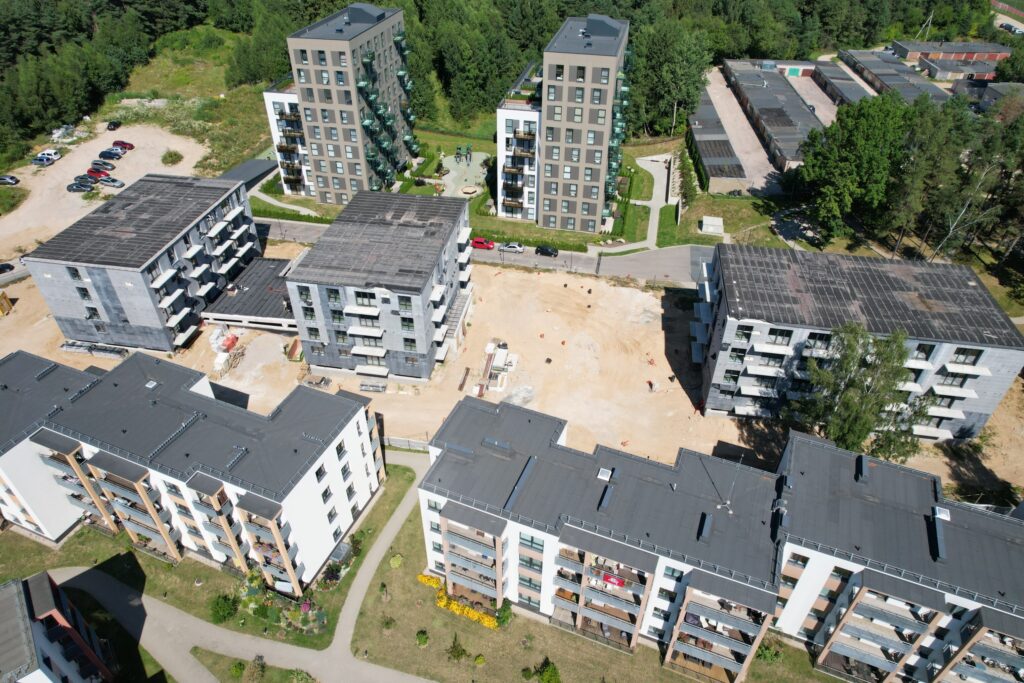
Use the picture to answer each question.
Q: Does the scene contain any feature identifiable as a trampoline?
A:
No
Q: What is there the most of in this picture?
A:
buildings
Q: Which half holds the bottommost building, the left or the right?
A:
left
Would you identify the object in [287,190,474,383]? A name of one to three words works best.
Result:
building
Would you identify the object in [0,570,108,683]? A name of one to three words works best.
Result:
building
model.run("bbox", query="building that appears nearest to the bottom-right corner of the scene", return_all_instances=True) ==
[765,434,1024,683]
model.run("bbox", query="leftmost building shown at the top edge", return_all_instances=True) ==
[262,3,420,205]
